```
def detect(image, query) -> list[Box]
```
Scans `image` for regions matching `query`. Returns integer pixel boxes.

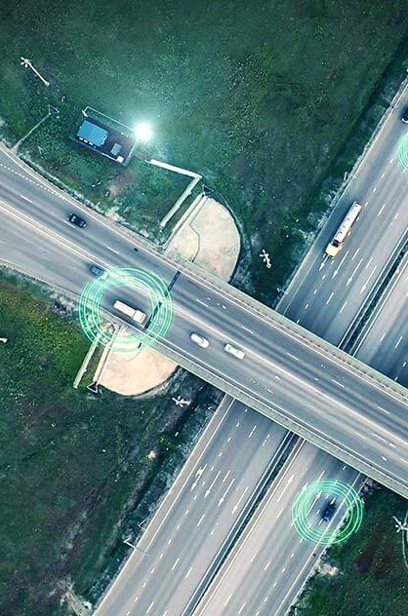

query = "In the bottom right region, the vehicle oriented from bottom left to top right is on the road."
[320,499,336,521]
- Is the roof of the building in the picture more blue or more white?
blue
